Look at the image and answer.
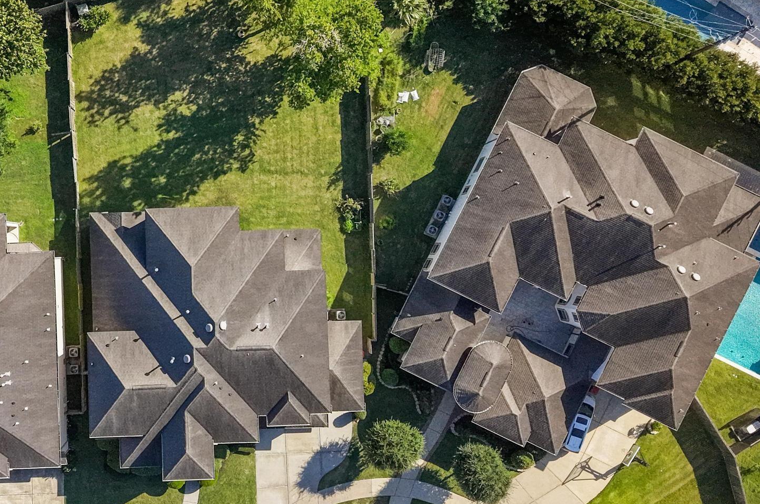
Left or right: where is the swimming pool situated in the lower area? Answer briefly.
right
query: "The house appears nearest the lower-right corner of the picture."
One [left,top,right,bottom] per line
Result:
[389,64,760,455]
